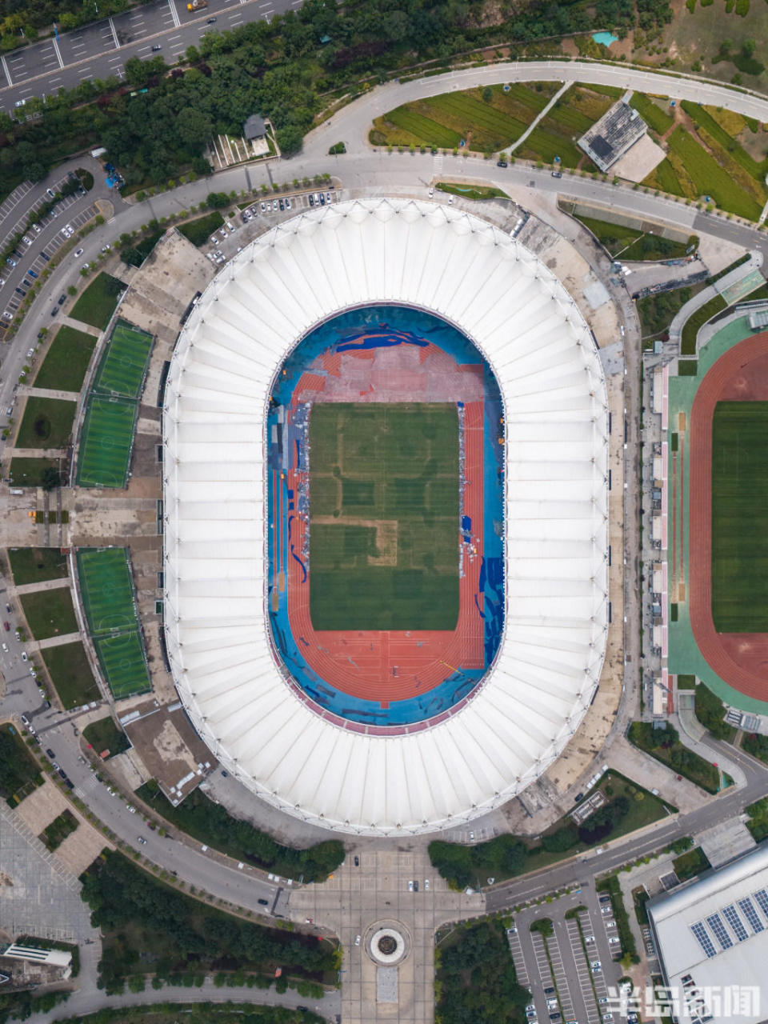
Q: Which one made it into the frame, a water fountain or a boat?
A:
water fountain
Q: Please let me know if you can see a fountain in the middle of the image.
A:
No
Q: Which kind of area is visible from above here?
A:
sports ground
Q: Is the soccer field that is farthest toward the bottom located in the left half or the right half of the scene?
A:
left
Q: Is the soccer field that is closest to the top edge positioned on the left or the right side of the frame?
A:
left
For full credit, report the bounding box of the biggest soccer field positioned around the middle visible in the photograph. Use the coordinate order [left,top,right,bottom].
[309,402,470,630]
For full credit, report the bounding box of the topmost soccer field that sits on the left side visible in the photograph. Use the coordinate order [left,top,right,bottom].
[88,315,154,398]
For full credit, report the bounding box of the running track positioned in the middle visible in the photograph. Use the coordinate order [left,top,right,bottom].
[269,315,504,724]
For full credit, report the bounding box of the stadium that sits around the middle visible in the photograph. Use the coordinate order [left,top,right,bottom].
[163,197,610,837]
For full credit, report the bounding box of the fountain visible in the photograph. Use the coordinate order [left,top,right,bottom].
[364,922,411,970]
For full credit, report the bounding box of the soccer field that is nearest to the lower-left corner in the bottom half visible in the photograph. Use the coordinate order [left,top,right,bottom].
[90,630,152,702]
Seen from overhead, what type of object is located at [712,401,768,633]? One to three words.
soccer field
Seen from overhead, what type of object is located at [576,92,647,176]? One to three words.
building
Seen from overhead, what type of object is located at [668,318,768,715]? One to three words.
running track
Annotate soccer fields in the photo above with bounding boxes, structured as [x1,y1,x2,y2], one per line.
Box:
[88,315,154,398]
[74,547,141,639]
[90,630,152,702]
[309,402,470,630]
[73,392,139,490]
[712,401,768,633]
